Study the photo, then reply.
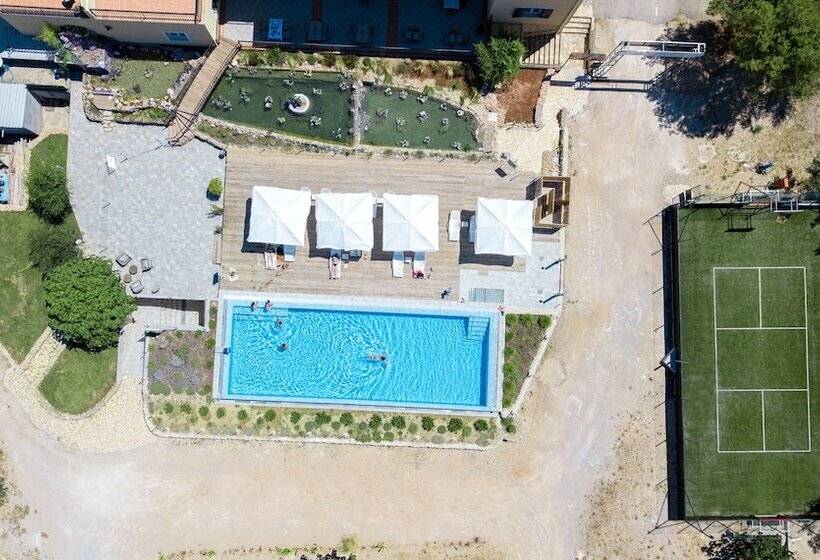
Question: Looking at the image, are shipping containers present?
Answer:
No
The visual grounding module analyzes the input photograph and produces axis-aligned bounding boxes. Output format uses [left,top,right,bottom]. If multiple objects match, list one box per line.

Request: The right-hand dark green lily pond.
[360,86,478,149]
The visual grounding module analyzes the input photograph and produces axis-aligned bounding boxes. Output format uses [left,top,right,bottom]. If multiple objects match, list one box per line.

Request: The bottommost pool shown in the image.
[212,290,504,415]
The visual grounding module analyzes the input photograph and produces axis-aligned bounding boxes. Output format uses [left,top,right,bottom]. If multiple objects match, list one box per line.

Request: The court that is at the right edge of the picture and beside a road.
[677,203,820,517]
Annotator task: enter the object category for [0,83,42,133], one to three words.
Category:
shed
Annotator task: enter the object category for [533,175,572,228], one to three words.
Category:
building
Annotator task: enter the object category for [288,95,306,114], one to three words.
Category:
fountain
